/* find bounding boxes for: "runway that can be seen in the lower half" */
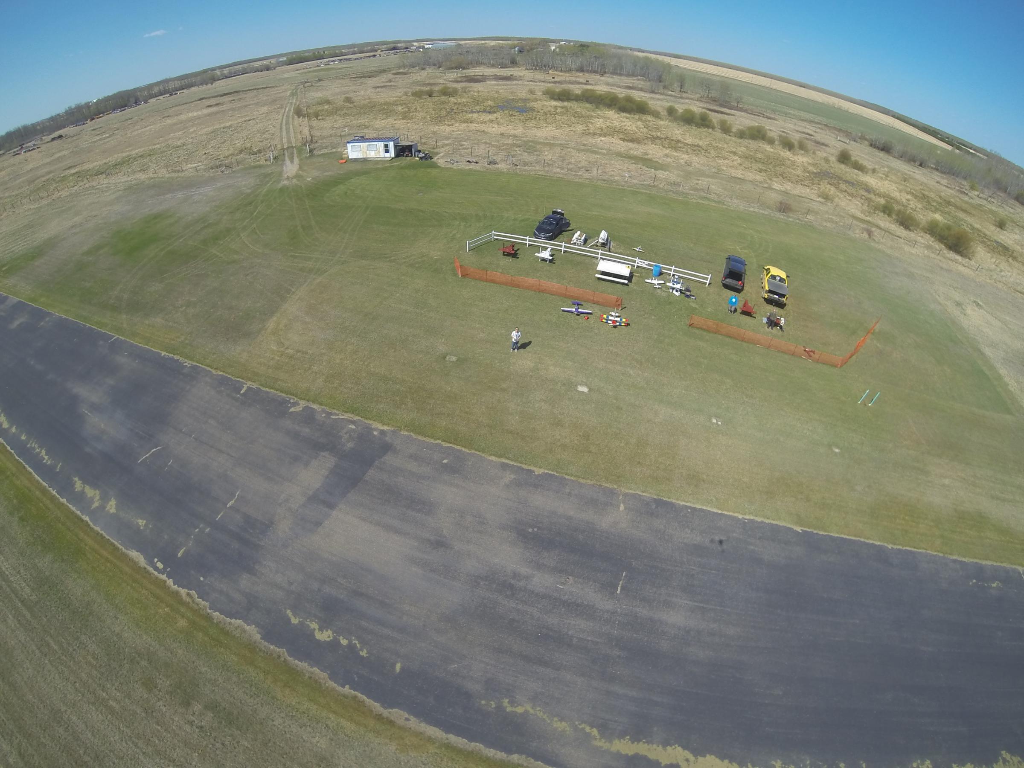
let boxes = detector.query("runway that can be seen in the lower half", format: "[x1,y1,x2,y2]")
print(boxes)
[0,294,1024,768]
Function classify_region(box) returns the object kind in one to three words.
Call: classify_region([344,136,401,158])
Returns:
shed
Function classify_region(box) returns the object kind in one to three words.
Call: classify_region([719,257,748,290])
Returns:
vehicle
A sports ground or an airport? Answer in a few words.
airport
